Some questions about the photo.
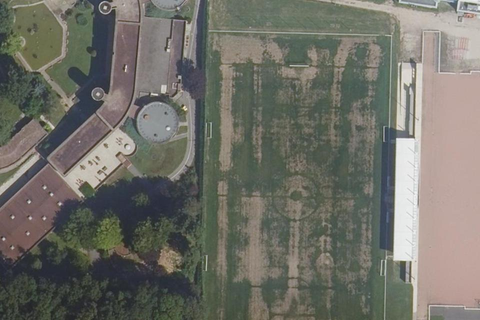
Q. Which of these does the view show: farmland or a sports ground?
sports ground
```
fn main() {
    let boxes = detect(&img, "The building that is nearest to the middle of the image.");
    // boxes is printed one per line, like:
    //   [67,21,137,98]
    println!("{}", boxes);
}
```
[136,100,179,144]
